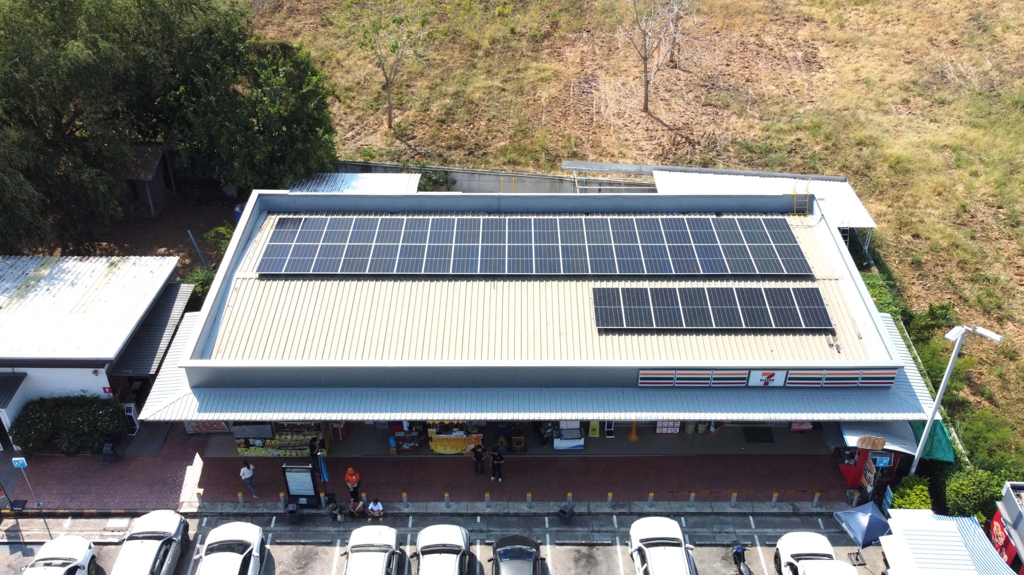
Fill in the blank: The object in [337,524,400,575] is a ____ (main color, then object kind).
white car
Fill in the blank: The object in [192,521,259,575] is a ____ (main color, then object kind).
white car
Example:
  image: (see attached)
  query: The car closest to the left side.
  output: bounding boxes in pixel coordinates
[17,534,91,575]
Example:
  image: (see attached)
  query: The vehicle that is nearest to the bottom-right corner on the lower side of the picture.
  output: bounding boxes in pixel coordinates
[782,531,855,575]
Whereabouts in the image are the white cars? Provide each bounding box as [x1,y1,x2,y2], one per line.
[105,510,184,575]
[192,521,259,575]
[337,524,400,575]
[782,531,855,575]
[17,534,91,575]
[409,522,473,575]
[630,516,697,575]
